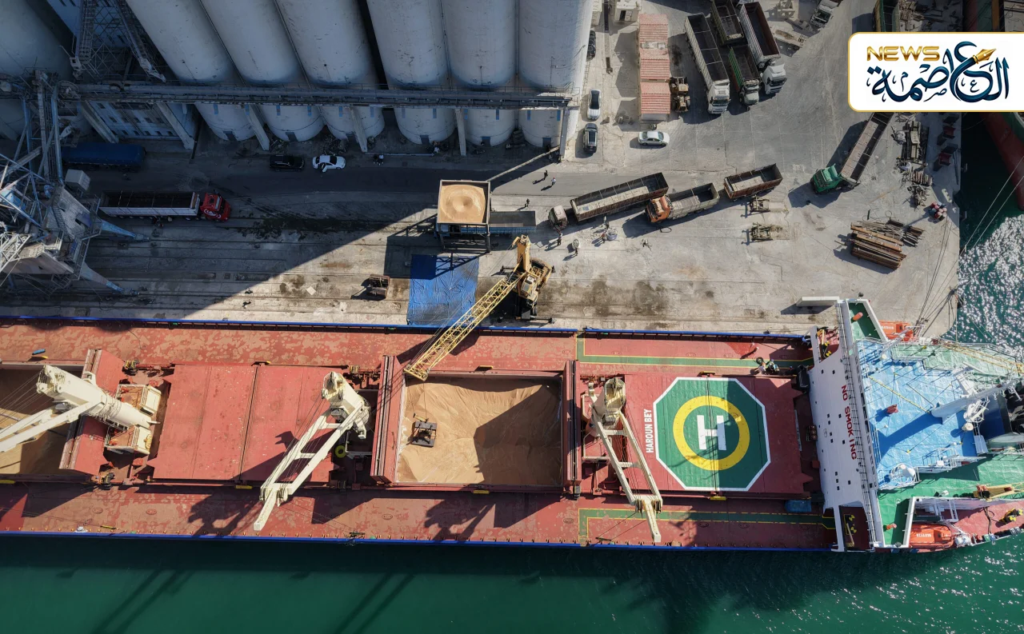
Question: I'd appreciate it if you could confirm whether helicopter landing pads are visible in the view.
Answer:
Yes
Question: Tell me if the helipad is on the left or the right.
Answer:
right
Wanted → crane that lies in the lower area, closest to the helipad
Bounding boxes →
[574,382,663,547]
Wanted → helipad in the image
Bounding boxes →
[651,378,773,494]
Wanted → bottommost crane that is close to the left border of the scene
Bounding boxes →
[0,368,173,473]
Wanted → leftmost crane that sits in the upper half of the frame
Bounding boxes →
[0,64,153,298]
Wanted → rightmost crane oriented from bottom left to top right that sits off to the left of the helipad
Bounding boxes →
[409,233,560,428]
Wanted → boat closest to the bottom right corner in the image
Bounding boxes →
[912,524,963,552]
